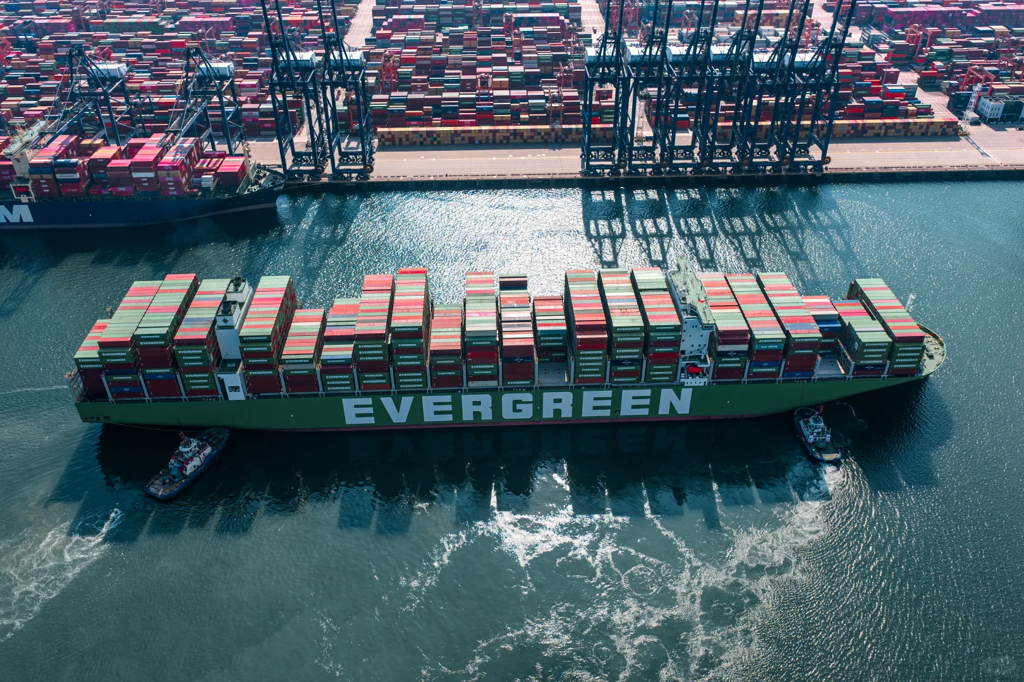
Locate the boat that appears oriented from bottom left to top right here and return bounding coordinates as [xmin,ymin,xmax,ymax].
[140,433,229,501]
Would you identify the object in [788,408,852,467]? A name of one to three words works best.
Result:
boat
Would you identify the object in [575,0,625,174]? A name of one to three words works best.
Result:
container crane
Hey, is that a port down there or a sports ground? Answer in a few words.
port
